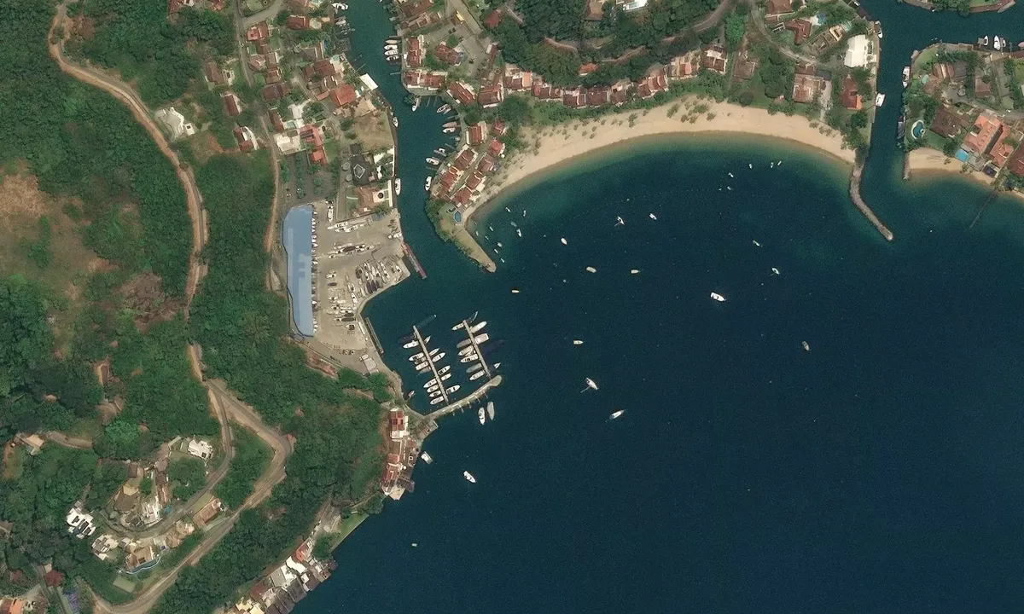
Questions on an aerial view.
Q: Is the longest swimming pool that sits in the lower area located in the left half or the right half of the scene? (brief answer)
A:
left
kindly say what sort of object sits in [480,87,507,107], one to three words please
house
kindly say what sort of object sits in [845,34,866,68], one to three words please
building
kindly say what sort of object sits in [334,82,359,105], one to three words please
house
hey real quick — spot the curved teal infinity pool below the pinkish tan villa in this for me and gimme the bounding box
[127,555,162,576]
